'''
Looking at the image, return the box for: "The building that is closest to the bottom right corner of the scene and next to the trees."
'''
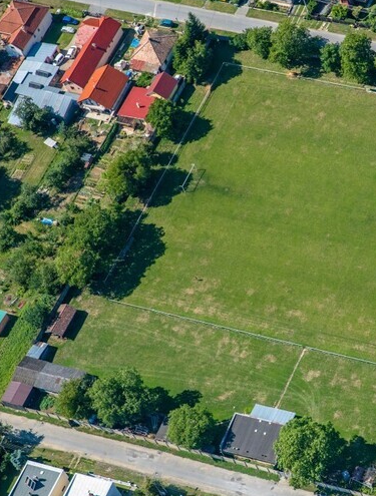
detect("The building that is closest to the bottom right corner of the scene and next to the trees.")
[220,413,288,468]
